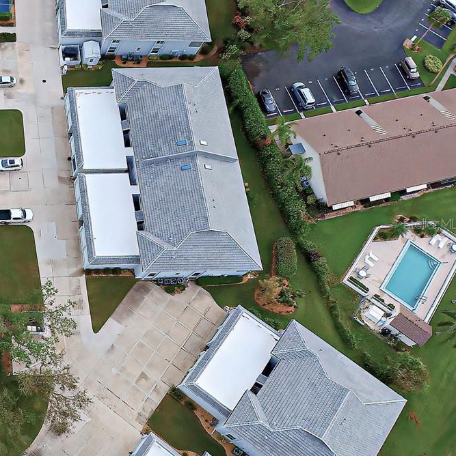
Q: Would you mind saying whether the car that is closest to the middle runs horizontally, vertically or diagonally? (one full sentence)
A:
The car that is closest to the middle has been laid out diagonally relative to the frame.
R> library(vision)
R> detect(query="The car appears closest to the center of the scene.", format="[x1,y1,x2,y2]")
[256,89,279,113]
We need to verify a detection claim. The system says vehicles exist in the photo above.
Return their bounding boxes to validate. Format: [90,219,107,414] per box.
[0,208,33,223]
[256,89,279,113]
[0,156,23,171]
[438,4,456,23]
[398,54,422,79]
[292,82,317,108]
[335,66,361,93]
[439,0,456,10]
[0,75,17,88]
